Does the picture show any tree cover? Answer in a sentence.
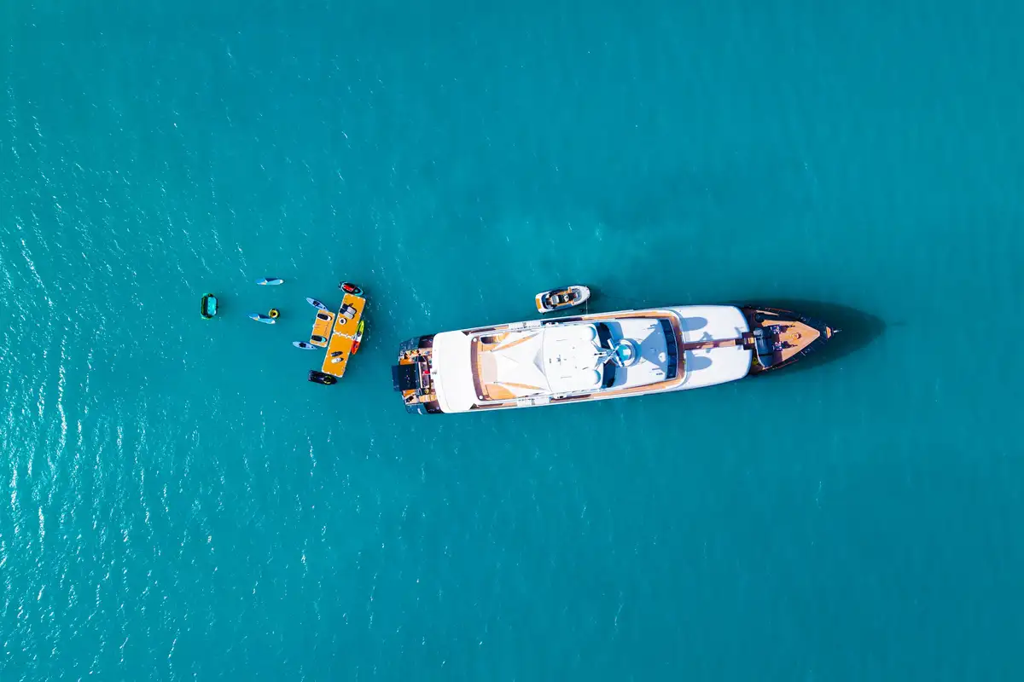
No, there's no tree cover in this view.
